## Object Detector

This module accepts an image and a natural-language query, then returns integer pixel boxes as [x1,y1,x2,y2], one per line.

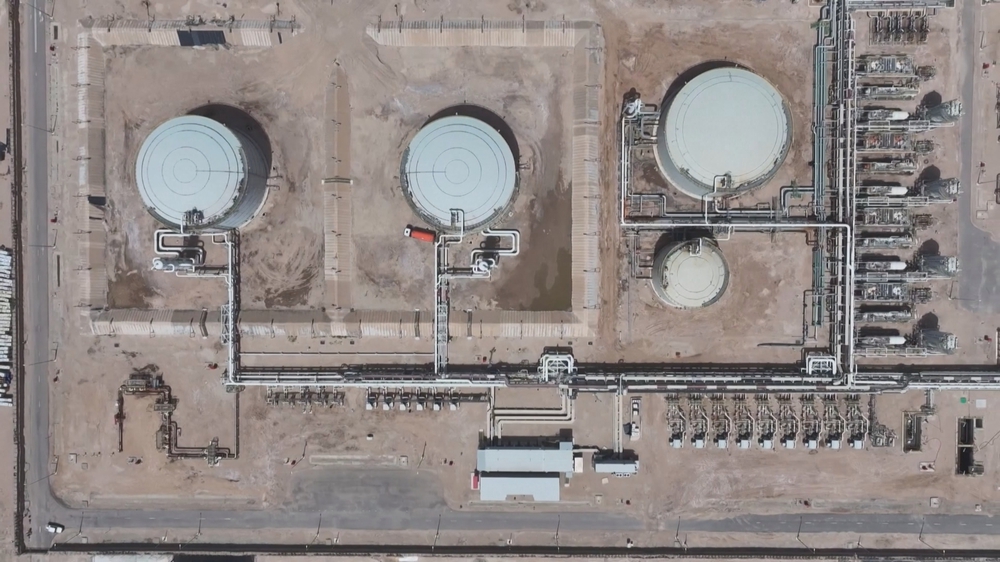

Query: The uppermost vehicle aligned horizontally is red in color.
[403,227,436,241]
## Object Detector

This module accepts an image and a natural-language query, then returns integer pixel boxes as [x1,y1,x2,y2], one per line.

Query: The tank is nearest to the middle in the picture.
[398,114,521,238]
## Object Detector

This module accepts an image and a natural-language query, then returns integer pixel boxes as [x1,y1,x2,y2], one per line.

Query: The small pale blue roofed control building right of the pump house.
[594,456,636,473]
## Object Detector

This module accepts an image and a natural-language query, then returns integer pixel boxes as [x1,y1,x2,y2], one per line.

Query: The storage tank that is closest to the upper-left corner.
[134,114,271,235]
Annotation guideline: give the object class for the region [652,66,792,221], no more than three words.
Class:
storage tank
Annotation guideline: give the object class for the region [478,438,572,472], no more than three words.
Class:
building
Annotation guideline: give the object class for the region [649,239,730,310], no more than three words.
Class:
storage tank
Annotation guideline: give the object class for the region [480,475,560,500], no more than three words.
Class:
building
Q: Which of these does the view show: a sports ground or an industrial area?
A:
industrial area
